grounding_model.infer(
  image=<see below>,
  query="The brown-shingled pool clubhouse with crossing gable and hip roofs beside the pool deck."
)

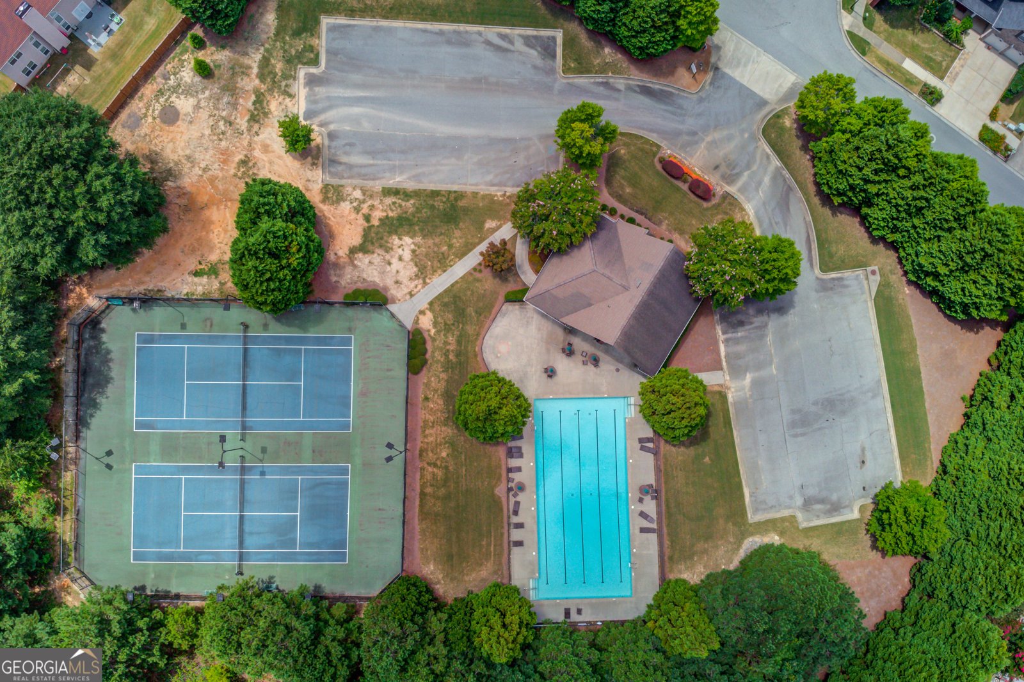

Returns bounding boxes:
[524,205,711,378]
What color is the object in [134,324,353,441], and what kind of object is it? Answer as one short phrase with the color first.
blue tennis court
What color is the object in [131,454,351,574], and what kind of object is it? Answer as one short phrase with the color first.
blue tennis court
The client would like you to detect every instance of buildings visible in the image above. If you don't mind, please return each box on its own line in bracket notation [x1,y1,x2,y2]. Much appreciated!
[0,0,95,86]
[524,205,711,378]
[930,0,1024,70]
